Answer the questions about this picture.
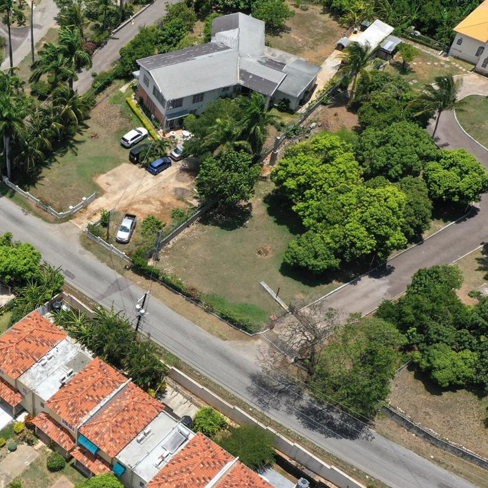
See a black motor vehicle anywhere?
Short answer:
Yes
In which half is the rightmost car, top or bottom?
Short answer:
top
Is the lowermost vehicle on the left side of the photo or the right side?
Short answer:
left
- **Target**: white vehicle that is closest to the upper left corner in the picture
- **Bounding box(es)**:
[119,129,148,146]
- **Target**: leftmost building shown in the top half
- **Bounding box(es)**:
[132,11,319,125]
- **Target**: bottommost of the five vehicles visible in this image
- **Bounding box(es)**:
[116,213,136,243]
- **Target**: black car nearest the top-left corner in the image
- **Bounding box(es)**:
[125,143,155,163]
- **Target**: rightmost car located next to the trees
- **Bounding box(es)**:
[165,142,192,163]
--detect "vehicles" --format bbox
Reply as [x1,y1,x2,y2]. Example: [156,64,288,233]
[116,213,136,243]
[125,143,155,163]
[145,158,172,175]
[165,142,192,163]
[119,129,148,146]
